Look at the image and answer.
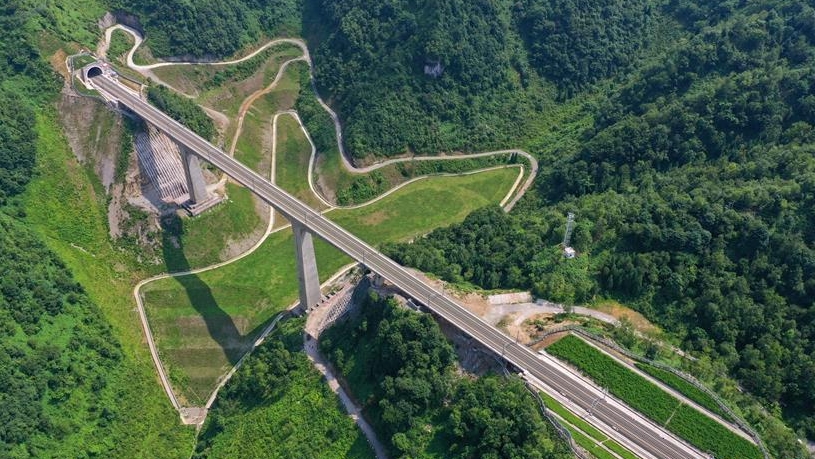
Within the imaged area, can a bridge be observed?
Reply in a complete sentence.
Yes, a bridge can be made out from above.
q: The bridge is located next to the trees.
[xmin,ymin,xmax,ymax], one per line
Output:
[114,91,544,377]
